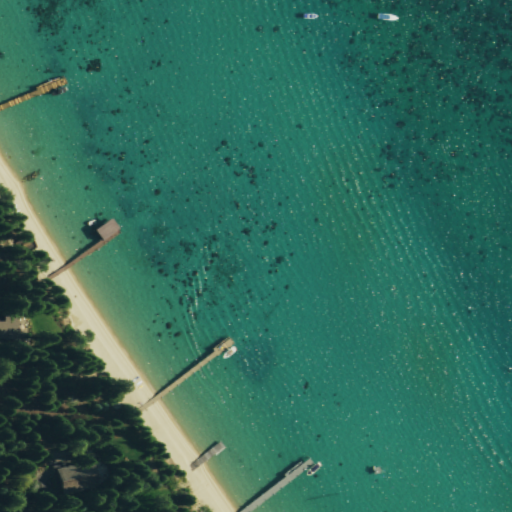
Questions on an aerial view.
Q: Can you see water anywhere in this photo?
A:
Yes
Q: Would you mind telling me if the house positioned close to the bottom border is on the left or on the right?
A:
left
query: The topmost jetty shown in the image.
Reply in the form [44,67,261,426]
[0,74,68,110]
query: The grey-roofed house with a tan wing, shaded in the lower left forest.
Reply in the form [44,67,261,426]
[58,466,84,490]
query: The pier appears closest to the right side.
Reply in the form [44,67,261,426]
[242,458,314,512]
